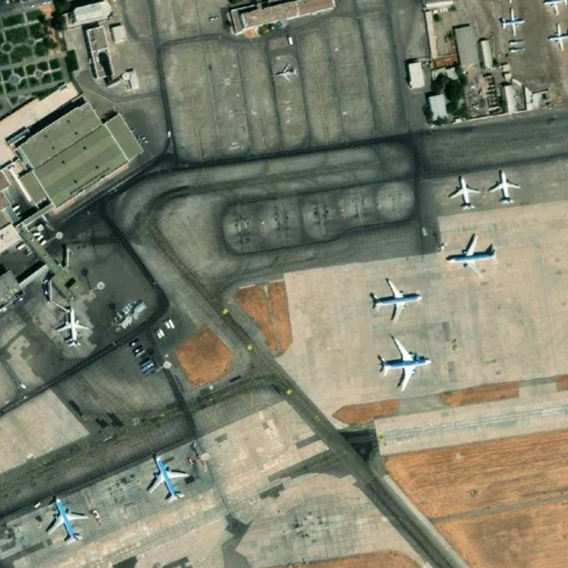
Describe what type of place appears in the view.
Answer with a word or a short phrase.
airport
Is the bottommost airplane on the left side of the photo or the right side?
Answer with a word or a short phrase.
left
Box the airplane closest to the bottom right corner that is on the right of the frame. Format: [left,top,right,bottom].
[380,338,432,390]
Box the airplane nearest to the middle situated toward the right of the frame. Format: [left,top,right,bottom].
[372,279,421,322]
